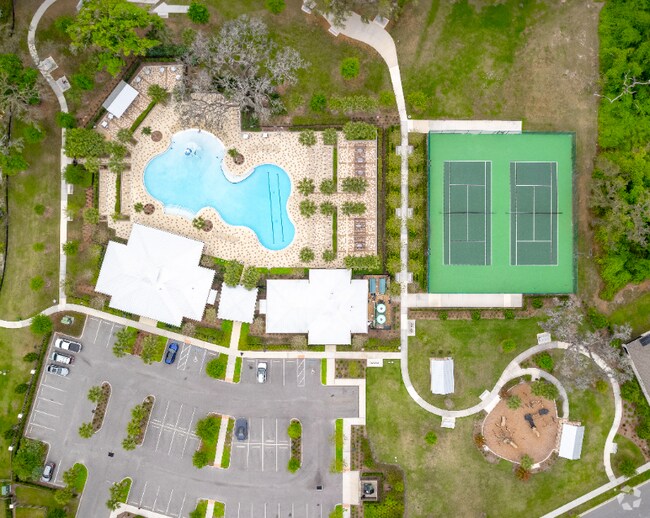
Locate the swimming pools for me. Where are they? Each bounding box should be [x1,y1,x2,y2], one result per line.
[142,127,296,252]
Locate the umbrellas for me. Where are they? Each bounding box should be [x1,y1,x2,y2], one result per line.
[376,303,386,313]
[376,315,386,324]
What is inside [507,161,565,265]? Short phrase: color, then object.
green tennis court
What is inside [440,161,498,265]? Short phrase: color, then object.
green tennis court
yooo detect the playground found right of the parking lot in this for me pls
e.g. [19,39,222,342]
[482,382,559,465]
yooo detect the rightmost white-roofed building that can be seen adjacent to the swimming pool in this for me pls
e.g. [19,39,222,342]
[267,269,368,345]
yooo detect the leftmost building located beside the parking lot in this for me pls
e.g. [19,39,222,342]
[95,223,215,327]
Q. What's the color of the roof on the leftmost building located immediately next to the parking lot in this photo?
white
